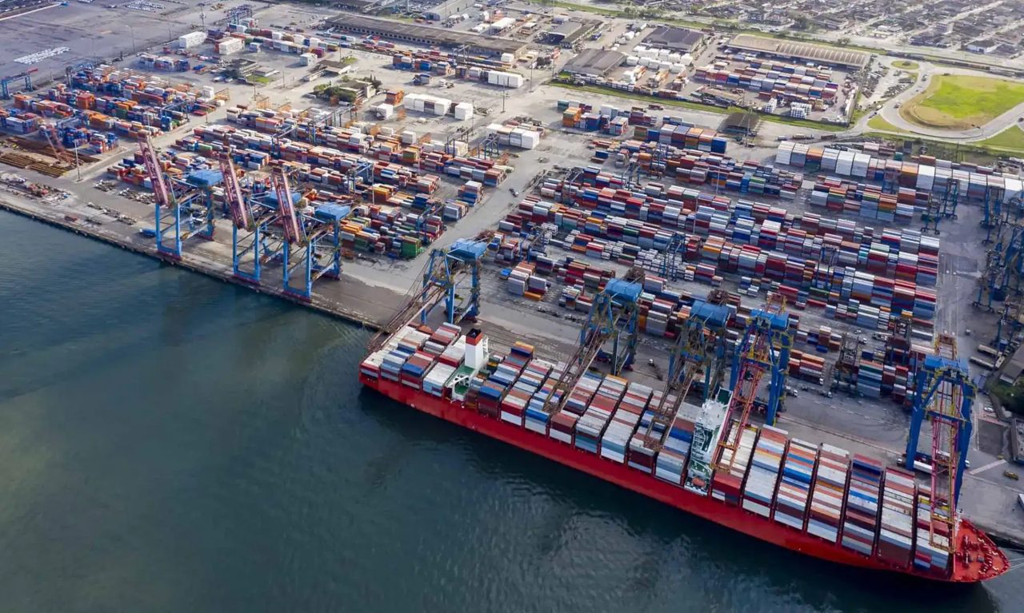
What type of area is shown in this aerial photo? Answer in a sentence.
This looks like a port.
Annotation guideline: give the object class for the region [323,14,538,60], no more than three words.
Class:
building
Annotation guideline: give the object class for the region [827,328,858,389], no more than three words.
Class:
container crane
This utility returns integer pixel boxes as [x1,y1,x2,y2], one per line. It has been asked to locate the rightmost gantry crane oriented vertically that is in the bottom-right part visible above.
[901,350,977,557]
